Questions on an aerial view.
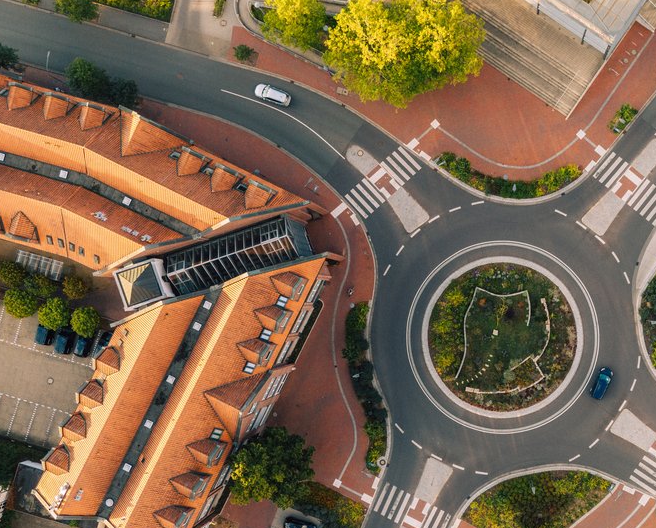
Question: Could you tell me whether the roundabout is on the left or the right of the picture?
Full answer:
The roundabout sits on the right side.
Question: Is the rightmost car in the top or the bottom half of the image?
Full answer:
It is in the bottom half that the rightmost car appears.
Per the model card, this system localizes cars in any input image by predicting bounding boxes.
[73,330,96,360]
[254,83,294,108]
[282,515,318,528]
[52,320,75,355]
[589,366,611,399]
[34,320,55,347]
